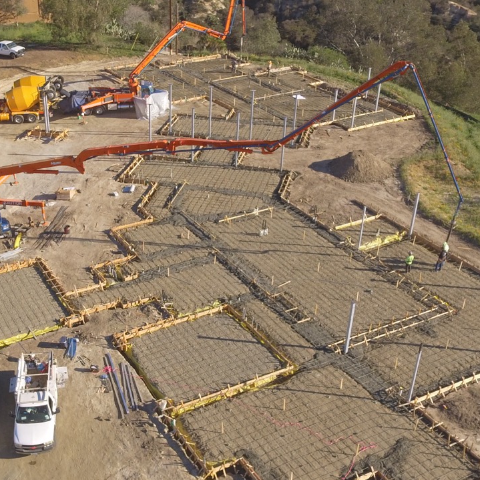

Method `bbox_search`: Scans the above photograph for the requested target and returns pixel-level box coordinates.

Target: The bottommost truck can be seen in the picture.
[4,343,68,449]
